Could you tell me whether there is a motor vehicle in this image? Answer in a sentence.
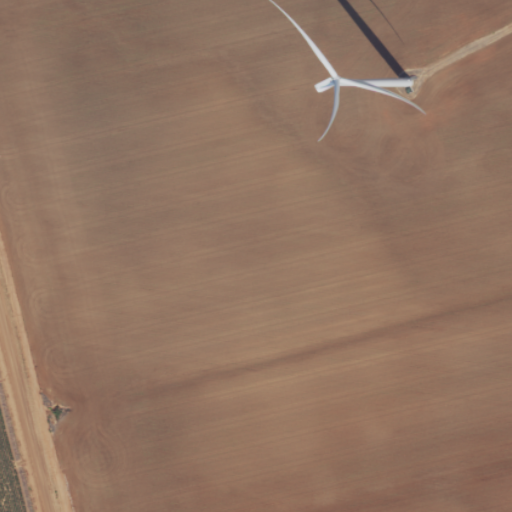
No, the scene contains no motor vehicle.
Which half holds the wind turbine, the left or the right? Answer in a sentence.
The wind turbine sits on the right side.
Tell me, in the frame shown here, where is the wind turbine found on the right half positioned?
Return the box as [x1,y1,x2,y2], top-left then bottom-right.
[270,0,426,140]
